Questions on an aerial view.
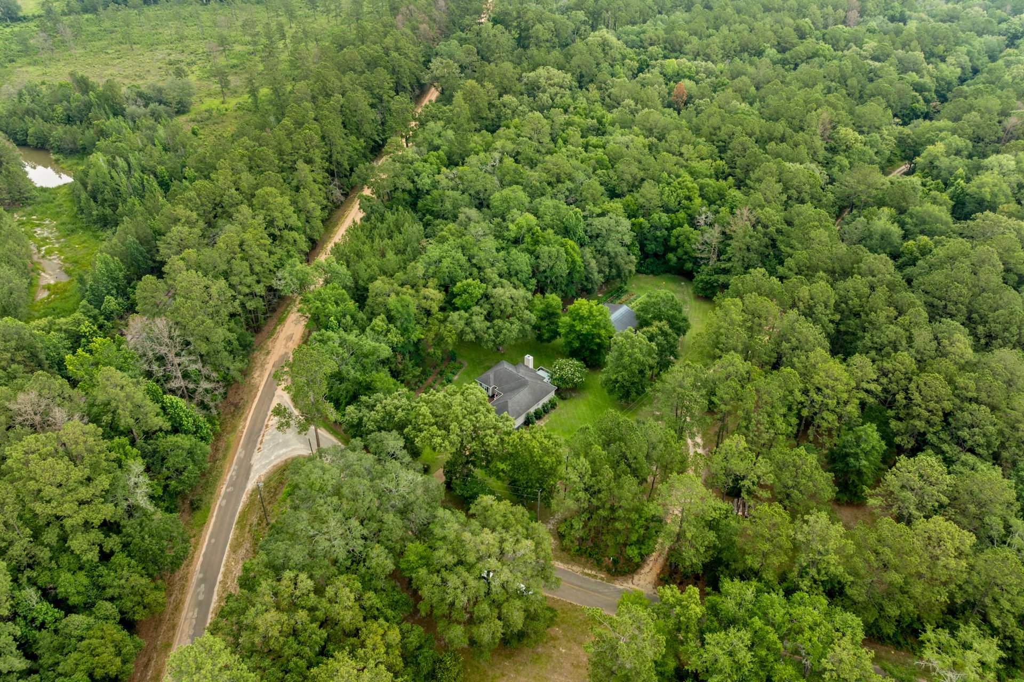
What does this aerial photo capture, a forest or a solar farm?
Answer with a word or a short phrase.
forest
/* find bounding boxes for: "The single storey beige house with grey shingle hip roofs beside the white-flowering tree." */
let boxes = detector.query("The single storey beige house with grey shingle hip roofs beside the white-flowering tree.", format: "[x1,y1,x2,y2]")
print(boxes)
[475,352,563,428]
